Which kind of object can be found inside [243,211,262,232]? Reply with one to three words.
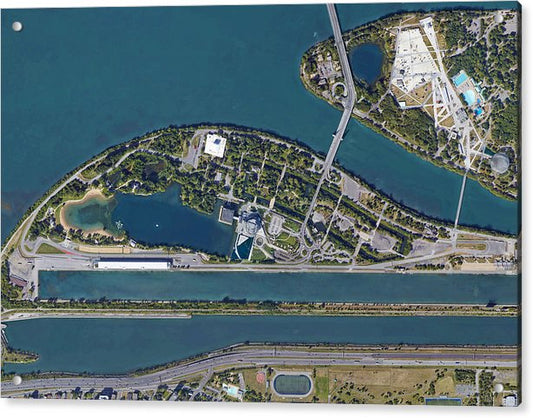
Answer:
building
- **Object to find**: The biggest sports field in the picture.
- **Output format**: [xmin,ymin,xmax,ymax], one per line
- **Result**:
[271,371,313,397]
